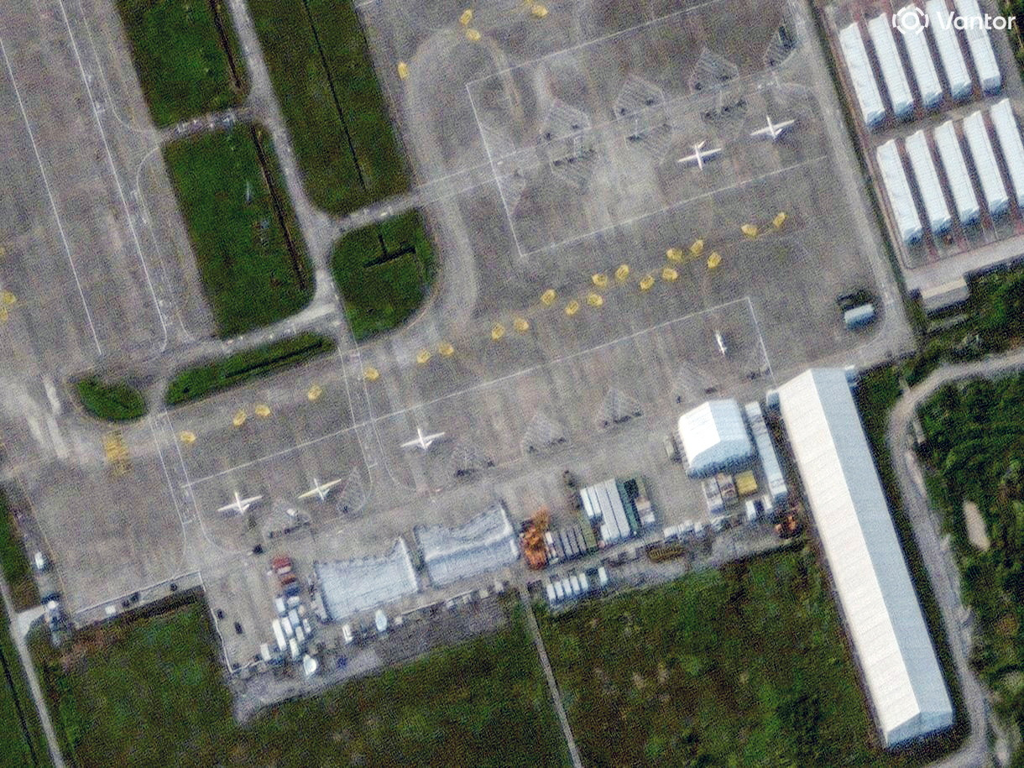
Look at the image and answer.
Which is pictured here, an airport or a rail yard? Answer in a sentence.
This image shows an airport.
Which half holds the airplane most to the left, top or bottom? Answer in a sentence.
The airplane most to the left sits in the bottom half of the picture.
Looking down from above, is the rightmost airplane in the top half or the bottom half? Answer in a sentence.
The rightmost airplane sits in the top half of the picture.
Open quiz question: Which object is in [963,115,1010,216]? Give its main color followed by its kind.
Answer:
white tent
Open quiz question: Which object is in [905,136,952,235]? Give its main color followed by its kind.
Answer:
white tent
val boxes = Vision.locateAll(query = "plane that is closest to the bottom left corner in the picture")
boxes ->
[218,493,261,514]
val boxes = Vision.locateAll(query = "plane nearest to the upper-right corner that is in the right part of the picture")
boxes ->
[750,118,793,138]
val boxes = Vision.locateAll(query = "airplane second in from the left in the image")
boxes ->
[298,479,341,501]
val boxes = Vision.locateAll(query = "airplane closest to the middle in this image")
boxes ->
[401,429,444,450]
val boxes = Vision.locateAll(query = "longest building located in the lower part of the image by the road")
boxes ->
[766,368,952,743]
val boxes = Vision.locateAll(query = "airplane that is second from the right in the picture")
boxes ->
[677,143,721,167]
